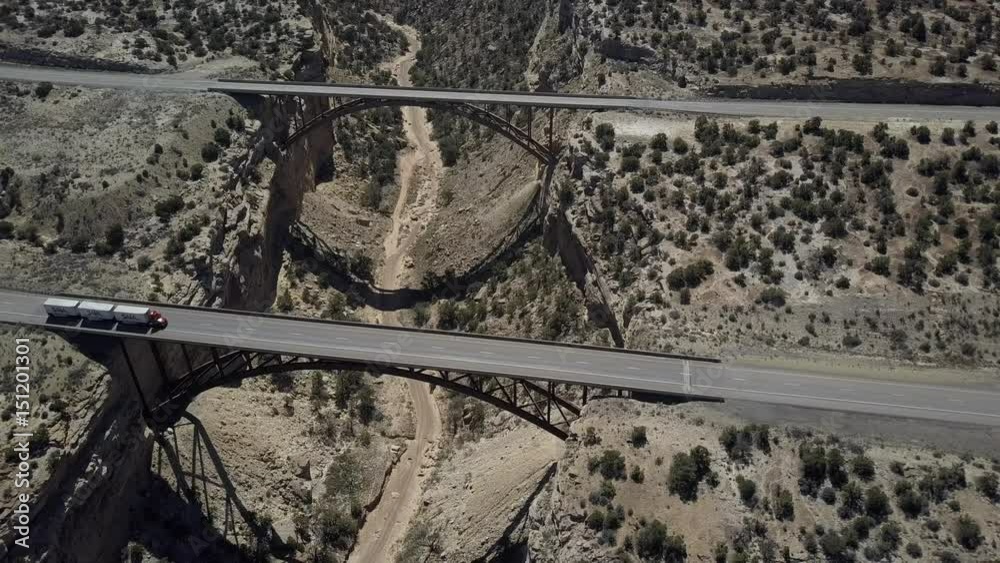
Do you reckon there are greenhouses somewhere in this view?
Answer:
No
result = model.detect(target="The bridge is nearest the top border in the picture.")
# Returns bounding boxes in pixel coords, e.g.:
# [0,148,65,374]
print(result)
[204,80,713,172]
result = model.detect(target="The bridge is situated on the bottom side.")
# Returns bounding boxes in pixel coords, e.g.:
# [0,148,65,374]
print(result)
[0,286,724,435]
